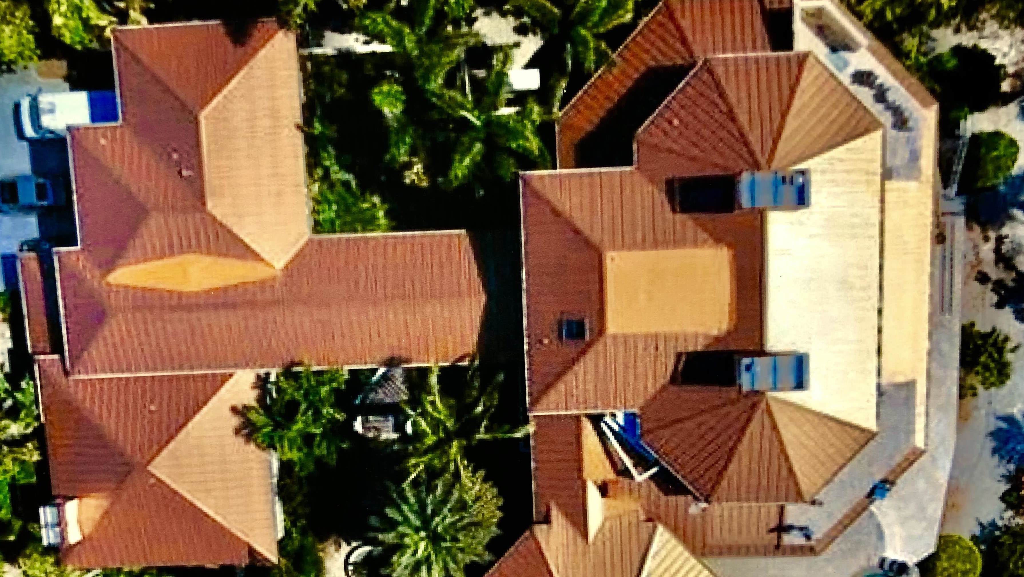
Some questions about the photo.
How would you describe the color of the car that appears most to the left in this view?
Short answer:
blue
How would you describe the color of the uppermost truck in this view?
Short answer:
white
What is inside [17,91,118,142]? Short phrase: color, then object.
white truck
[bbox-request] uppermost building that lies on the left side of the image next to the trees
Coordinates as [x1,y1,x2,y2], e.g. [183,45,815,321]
[17,18,516,377]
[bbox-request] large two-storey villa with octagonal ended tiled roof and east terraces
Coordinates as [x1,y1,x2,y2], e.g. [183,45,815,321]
[482,0,938,577]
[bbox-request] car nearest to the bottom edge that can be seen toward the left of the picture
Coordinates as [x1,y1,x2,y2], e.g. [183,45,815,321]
[0,174,53,208]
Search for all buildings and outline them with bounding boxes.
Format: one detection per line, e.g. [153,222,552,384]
[17,18,516,377]
[482,0,938,577]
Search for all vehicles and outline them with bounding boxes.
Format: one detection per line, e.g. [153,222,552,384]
[0,174,53,208]
[17,91,118,142]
